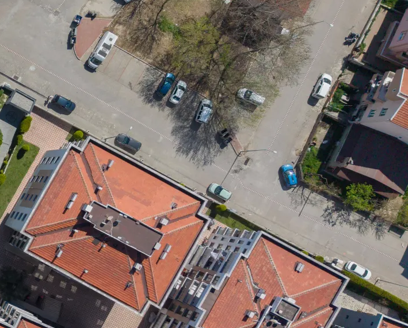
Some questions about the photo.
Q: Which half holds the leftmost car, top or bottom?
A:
top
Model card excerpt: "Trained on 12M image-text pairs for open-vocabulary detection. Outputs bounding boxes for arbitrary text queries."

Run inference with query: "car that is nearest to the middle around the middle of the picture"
[206,182,233,202]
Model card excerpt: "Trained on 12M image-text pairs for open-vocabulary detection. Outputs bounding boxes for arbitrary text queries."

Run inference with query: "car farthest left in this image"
[46,93,74,113]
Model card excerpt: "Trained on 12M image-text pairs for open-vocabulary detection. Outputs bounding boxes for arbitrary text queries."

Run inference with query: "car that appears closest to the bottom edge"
[342,260,370,278]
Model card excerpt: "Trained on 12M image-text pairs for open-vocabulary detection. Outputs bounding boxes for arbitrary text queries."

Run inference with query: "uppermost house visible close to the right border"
[362,20,408,71]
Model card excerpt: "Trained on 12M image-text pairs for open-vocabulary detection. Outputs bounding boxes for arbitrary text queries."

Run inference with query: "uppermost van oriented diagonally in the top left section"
[90,30,121,67]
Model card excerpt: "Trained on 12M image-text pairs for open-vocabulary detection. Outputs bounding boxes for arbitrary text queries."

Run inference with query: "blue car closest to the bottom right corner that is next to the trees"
[278,164,298,189]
